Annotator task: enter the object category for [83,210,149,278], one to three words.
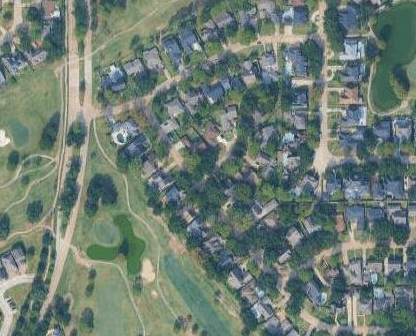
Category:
pond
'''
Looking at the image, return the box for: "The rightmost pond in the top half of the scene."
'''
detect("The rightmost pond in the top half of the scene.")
[369,0,416,114]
